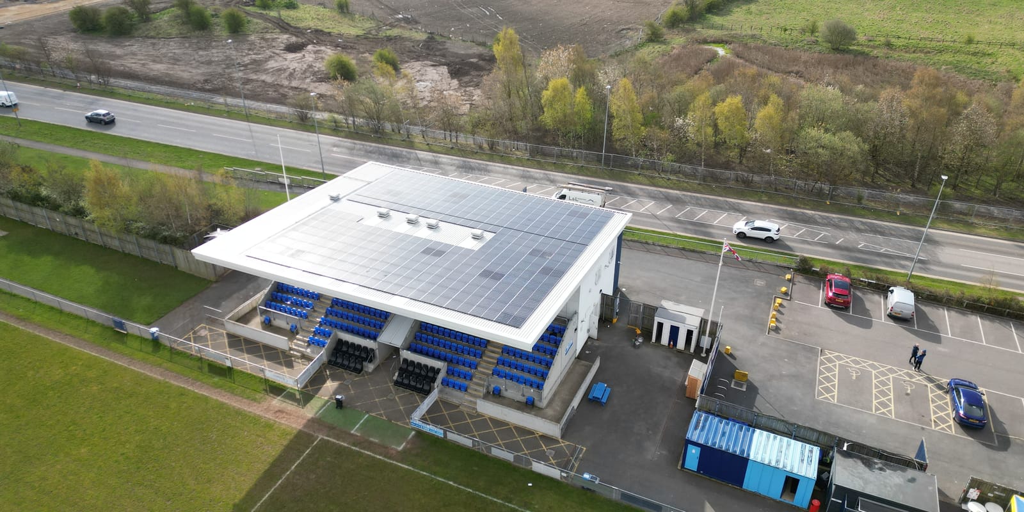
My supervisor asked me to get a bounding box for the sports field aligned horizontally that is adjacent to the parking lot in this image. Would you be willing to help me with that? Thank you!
[0,288,641,512]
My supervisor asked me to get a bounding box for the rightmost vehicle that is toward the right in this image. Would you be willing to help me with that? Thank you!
[951,380,997,434]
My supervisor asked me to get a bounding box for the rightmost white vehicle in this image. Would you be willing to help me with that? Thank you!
[888,287,921,323]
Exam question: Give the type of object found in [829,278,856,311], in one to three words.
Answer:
car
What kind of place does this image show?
sports ground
